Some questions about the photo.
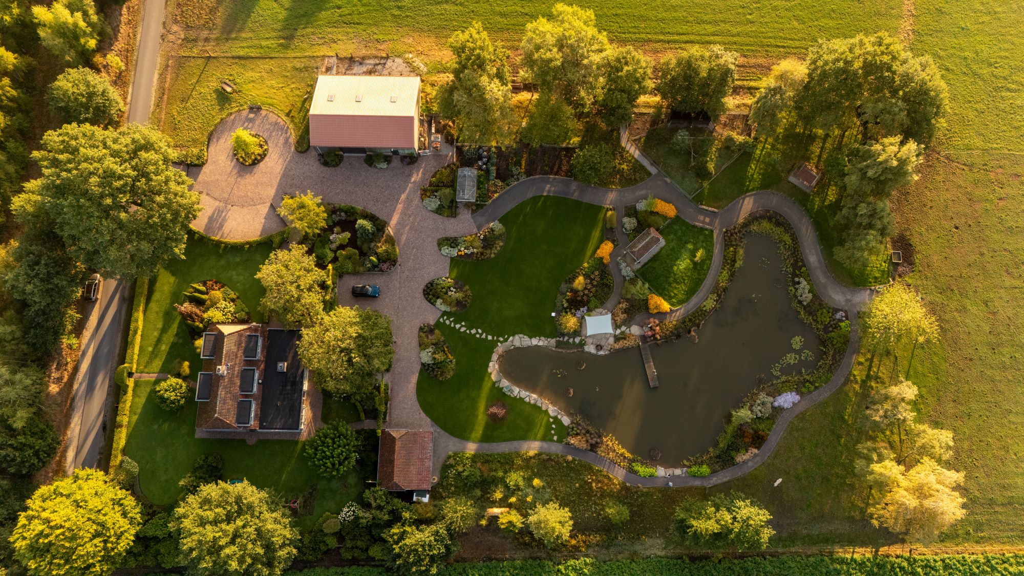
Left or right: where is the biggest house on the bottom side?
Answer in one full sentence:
The biggest house on the bottom side is on the left side of the image.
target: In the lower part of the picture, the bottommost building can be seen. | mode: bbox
[377,429,435,489]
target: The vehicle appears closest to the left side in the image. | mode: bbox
[81,274,106,304]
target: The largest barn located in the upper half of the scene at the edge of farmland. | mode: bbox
[308,75,420,158]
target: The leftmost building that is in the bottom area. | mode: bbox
[194,327,309,433]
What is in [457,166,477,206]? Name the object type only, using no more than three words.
greenhouse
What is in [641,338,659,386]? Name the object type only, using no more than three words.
pier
